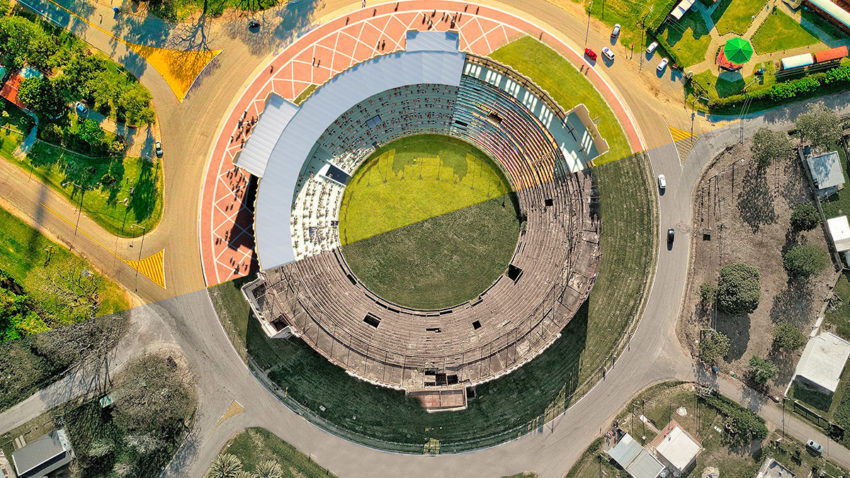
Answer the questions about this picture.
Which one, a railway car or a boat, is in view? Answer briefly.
railway car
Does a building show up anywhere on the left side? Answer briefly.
Yes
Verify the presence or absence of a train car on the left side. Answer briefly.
No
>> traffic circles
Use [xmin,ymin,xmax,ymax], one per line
[154,0,700,478]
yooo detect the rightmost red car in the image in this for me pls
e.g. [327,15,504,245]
[583,48,598,61]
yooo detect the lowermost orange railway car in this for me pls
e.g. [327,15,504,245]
[809,46,849,66]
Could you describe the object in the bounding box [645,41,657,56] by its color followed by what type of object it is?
white vehicle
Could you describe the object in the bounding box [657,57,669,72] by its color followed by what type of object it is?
white vehicle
